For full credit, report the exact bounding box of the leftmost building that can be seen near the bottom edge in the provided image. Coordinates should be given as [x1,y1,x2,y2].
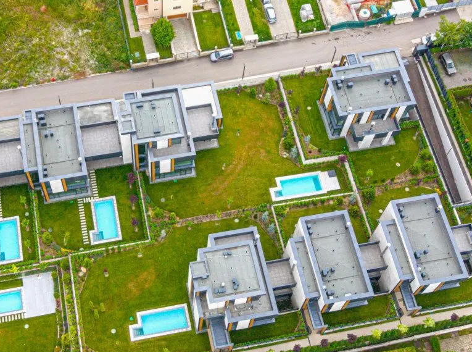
[190,227,296,352]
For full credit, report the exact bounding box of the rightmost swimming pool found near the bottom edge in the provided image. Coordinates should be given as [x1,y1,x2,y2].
[128,303,191,342]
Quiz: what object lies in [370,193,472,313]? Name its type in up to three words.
house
